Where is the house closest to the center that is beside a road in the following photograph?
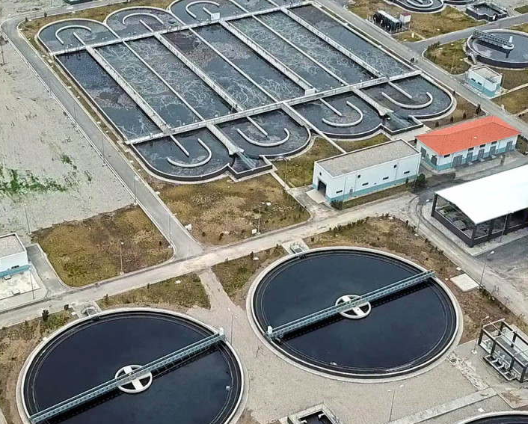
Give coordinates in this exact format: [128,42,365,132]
[313,139,422,203]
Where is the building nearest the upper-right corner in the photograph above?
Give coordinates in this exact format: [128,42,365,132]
[467,67,507,96]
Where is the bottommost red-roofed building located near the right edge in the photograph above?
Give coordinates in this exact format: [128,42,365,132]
[414,116,522,171]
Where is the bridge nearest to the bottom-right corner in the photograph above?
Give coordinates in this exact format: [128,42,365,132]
[262,272,438,341]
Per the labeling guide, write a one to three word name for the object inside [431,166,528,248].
shed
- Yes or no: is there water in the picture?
Yes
